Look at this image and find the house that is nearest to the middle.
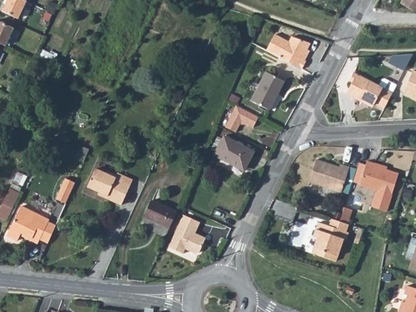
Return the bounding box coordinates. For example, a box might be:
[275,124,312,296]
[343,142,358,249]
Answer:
[214,134,256,172]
